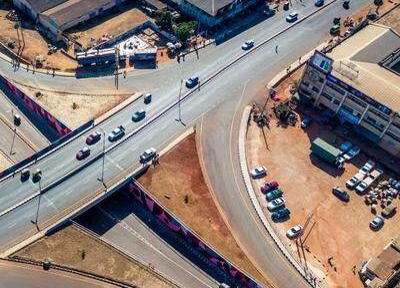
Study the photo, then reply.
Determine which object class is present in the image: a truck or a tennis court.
truck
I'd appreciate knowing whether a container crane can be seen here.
No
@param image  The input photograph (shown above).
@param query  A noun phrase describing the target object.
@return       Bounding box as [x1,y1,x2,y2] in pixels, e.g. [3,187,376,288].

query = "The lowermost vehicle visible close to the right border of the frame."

[369,215,385,229]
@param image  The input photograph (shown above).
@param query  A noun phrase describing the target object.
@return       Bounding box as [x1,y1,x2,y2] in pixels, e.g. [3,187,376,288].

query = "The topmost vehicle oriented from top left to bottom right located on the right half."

[312,132,345,164]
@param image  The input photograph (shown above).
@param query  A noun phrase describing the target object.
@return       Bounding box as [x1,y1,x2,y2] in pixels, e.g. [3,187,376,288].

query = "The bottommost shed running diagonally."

[360,242,400,284]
